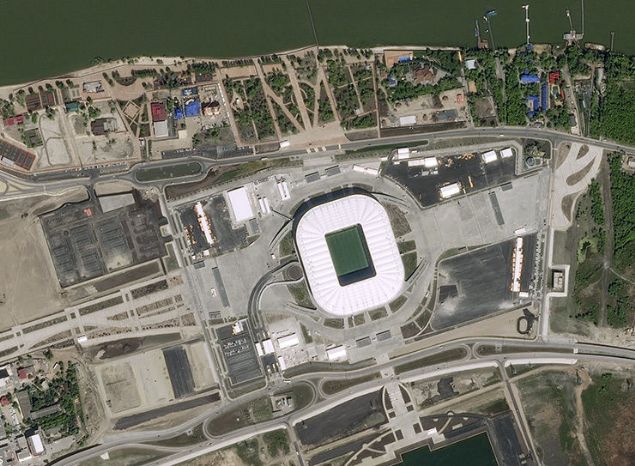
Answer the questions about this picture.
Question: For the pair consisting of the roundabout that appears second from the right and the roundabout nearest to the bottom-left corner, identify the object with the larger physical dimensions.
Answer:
the roundabout nearest to the bottom-left corner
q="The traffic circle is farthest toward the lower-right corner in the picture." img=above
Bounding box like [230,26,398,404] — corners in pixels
[471,344,580,359]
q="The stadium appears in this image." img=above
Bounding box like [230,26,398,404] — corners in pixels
[299,195,406,316]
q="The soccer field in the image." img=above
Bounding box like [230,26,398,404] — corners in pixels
[329,226,373,285]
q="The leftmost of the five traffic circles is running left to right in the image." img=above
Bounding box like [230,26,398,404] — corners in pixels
[130,156,206,187]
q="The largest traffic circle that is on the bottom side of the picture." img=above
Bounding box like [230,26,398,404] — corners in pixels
[203,379,316,440]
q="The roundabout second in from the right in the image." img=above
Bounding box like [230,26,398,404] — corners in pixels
[392,344,469,375]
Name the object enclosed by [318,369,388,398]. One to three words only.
roundabout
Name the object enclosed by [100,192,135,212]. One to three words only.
building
